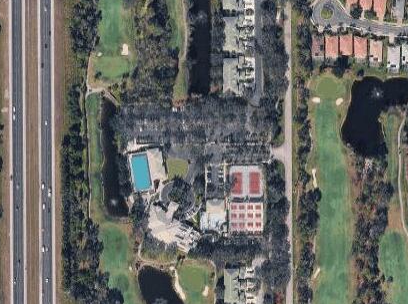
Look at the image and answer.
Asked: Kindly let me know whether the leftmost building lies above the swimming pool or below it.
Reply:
below it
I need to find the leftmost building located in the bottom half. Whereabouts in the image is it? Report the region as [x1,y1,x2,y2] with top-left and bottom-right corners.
[148,199,202,244]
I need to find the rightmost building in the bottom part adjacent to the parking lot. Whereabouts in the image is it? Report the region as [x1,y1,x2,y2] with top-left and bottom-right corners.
[206,200,225,221]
